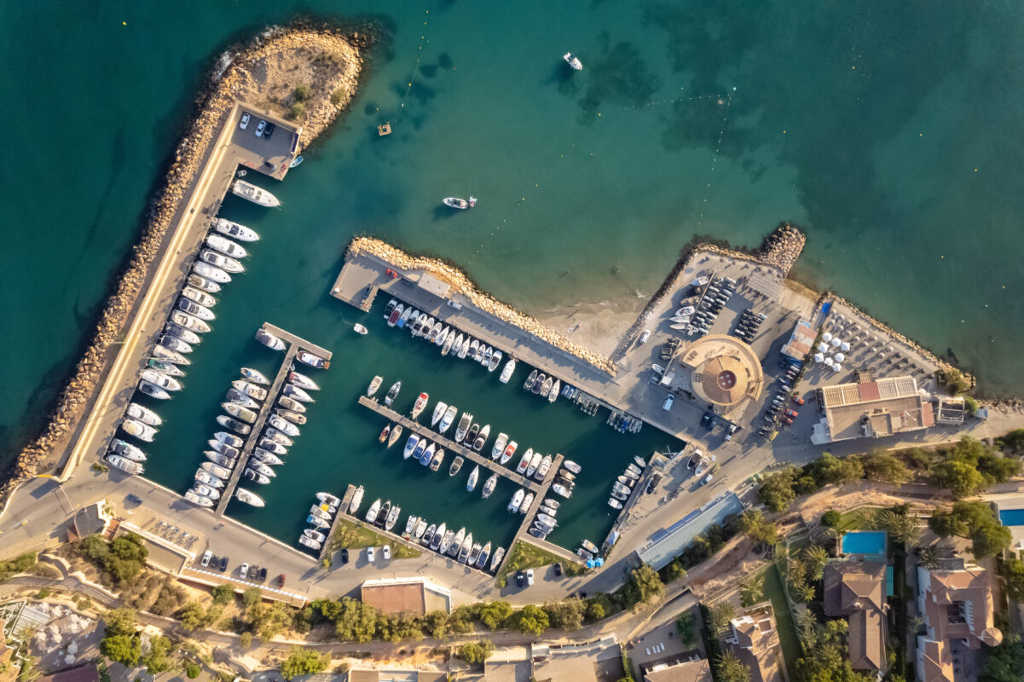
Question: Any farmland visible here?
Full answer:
No, there's no farmland in this view.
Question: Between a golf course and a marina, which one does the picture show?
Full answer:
This looks like a marina.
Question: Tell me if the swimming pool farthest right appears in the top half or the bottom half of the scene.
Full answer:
The bottom half of the photo is where the swimming pool farthest right is.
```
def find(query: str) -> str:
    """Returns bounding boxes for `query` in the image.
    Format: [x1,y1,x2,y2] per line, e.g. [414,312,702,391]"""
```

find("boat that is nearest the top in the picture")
[562,51,582,69]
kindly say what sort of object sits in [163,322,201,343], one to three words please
boat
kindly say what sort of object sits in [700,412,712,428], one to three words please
vehicle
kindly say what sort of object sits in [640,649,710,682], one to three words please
house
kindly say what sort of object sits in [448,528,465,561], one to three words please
boat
